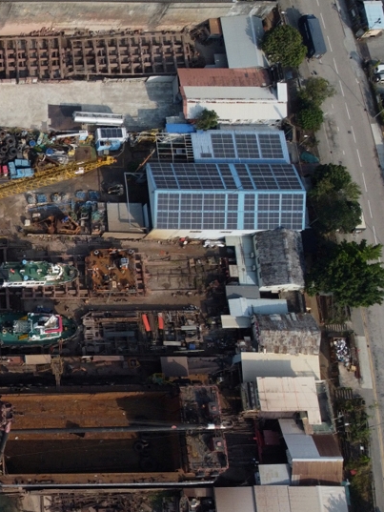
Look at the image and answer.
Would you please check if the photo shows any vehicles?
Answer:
Yes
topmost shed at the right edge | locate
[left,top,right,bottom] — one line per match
[357,0,384,34]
